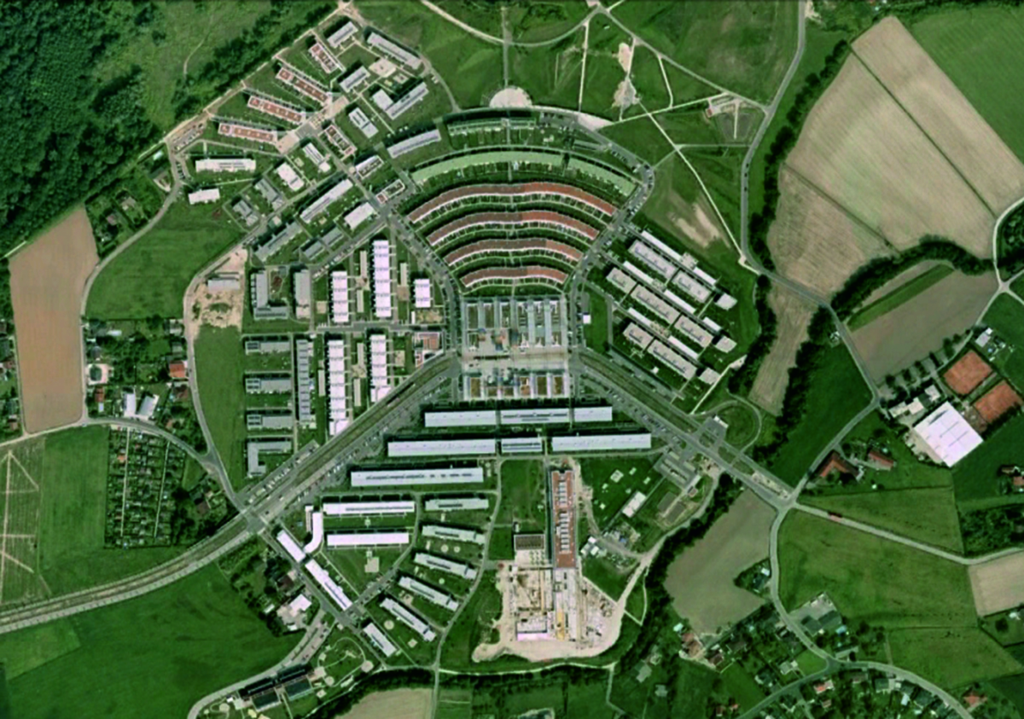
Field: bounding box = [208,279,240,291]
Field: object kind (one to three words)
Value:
shed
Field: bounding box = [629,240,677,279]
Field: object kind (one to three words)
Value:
building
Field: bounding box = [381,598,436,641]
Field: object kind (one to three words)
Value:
building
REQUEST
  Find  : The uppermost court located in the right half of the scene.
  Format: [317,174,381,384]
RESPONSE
[944,351,992,394]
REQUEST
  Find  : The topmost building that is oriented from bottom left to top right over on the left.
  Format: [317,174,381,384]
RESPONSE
[327,21,359,48]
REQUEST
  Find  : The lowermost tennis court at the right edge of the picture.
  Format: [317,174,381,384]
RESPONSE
[975,380,1022,423]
